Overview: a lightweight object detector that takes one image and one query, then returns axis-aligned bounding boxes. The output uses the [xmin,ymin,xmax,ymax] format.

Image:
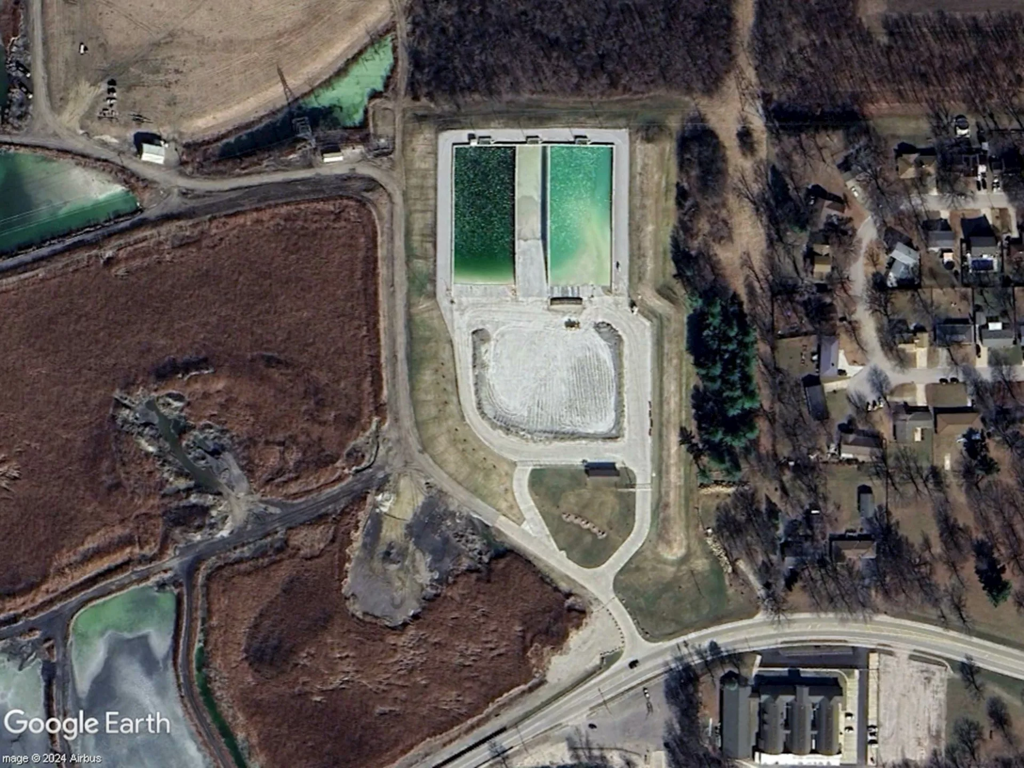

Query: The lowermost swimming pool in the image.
[970,258,994,271]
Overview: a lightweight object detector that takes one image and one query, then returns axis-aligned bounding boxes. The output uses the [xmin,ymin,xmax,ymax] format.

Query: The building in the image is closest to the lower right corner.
[759,679,843,755]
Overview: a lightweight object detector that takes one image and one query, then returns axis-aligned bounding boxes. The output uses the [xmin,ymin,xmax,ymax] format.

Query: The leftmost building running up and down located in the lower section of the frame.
[722,682,758,761]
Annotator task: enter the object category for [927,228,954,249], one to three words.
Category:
house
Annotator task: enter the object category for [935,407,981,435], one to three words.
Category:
house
